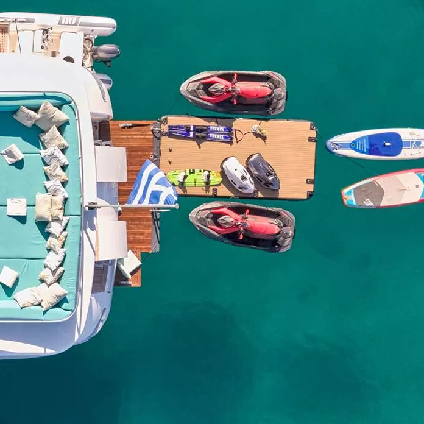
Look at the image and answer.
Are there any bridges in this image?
No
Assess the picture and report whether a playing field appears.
No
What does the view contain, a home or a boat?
boat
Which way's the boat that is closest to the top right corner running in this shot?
from side to side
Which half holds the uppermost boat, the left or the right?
left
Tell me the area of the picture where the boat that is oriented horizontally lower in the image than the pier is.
center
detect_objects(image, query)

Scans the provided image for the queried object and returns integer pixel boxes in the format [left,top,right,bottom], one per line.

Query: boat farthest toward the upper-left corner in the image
[0,11,121,89]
